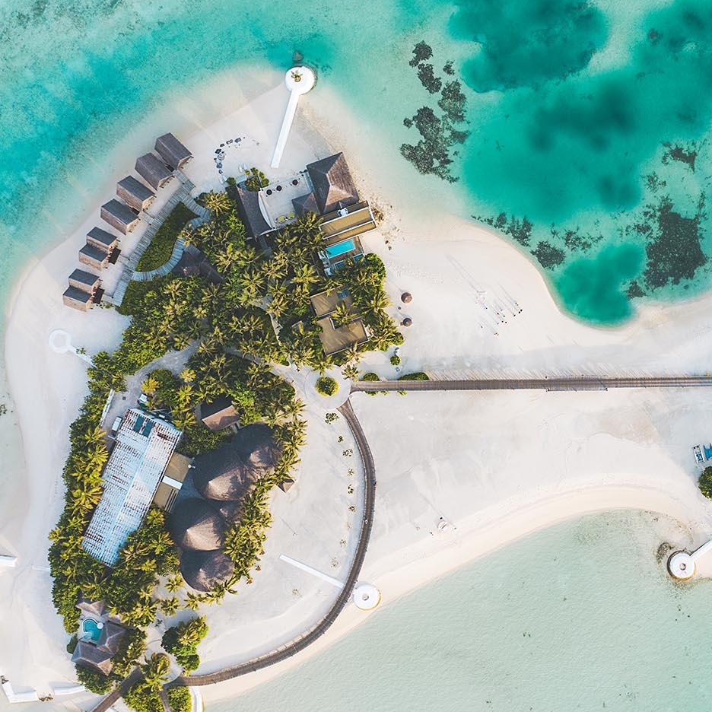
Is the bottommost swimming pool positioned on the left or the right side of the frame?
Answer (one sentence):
The bottommost swimming pool is on the left side of the image.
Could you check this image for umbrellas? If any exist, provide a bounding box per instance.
[402,291,412,303]
[403,317,412,327]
